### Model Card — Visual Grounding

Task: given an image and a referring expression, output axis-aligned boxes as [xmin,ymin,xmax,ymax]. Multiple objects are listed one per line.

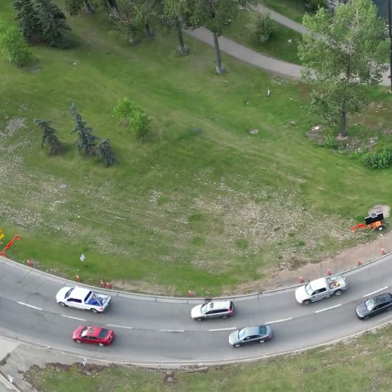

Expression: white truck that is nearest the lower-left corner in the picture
[58,288,112,315]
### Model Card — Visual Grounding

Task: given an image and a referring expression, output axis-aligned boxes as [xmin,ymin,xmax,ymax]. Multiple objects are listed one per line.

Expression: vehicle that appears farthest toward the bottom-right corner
[354,292,392,322]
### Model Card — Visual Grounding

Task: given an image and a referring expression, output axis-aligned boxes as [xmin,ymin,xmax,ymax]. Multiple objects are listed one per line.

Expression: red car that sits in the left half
[72,325,117,348]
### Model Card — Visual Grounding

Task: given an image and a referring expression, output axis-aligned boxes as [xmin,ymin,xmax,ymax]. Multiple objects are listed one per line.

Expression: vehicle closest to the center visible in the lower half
[192,300,234,322]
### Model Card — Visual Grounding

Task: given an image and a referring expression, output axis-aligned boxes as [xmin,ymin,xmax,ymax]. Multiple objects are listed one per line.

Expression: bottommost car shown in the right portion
[230,325,273,349]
